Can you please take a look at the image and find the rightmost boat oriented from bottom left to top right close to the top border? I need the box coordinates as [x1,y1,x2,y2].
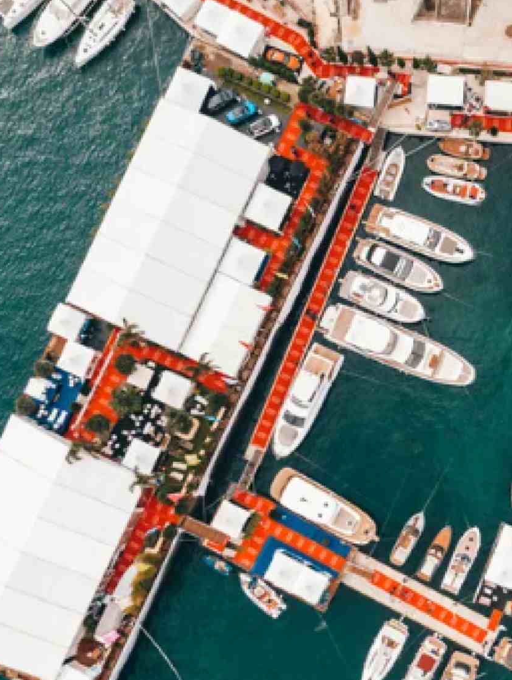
[73,0,149,65]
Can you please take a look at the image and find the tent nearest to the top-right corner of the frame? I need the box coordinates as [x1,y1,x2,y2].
[344,76,378,113]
